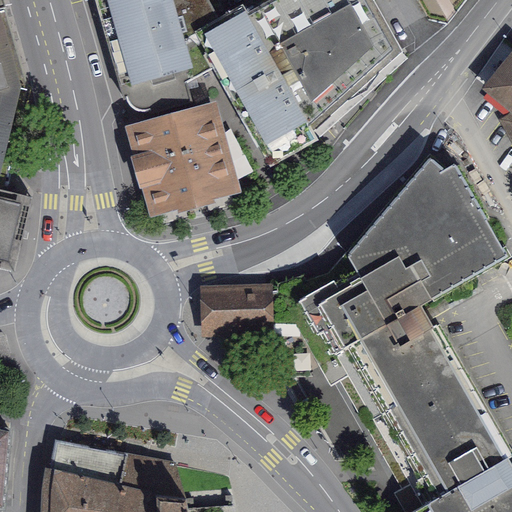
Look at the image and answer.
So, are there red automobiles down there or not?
Yes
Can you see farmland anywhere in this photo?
No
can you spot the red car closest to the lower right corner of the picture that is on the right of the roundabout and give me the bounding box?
[253,404,274,423]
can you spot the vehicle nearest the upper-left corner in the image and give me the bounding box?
[63,36,76,60]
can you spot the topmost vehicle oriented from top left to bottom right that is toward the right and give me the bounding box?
[390,17,408,40]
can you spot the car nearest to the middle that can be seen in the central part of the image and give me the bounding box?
[212,230,236,243]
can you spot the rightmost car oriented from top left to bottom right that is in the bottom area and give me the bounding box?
[299,446,318,466]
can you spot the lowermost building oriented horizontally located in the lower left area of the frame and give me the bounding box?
[40,440,186,512]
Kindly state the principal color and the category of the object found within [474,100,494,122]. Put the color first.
white car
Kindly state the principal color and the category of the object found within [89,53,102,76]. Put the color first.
white vehicle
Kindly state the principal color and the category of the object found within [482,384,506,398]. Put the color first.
gray car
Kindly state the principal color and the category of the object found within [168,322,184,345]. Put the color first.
blue car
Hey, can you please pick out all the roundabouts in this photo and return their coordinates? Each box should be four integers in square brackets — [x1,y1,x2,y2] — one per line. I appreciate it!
[15,171,234,416]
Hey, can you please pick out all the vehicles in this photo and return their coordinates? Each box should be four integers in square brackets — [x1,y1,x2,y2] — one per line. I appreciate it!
[0,296,14,310]
[498,146,512,170]
[212,230,236,243]
[42,218,54,240]
[488,124,507,146]
[63,36,76,60]
[299,446,318,466]
[196,358,218,380]
[447,322,464,332]
[488,396,511,408]
[432,128,448,152]
[168,322,184,345]
[390,17,408,40]
[89,53,102,76]
[482,384,506,398]
[253,404,274,423]
[474,100,494,122]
